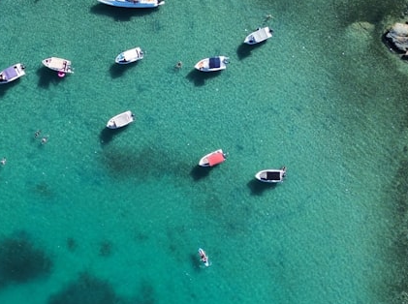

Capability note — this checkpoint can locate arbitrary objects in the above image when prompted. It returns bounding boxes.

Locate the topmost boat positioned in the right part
[243,27,274,43]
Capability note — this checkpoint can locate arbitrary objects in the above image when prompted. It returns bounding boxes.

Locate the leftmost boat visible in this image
[0,63,28,83]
